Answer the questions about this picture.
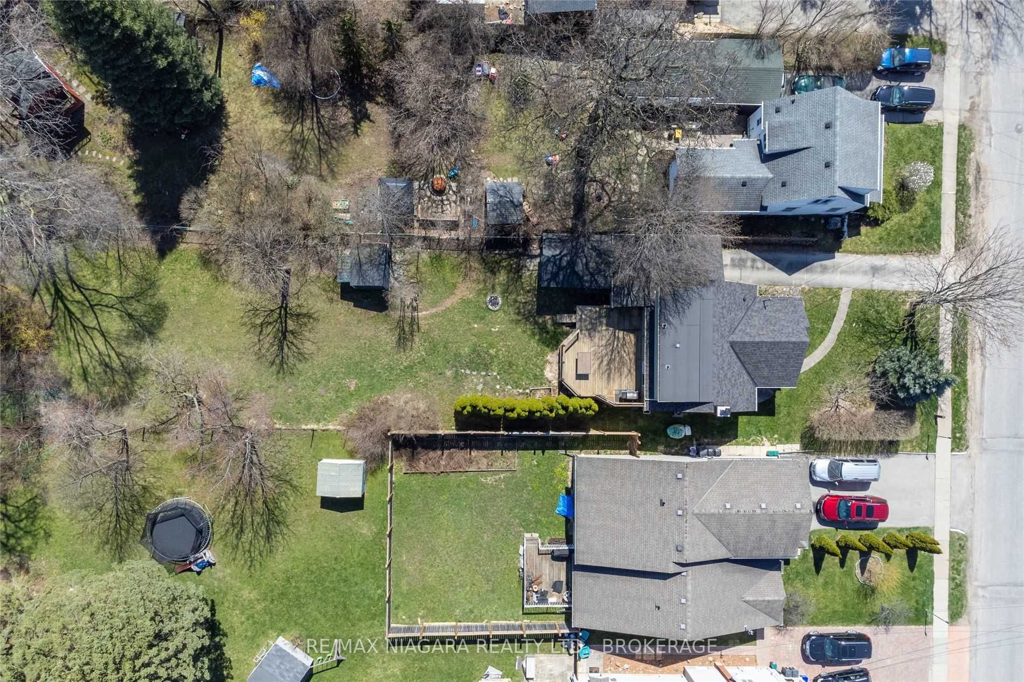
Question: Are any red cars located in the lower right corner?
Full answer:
Yes, in the lower right corner there is a red car.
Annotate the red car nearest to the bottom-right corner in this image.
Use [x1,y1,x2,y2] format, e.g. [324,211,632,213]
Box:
[814,493,887,526]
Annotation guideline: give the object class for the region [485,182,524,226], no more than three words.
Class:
shed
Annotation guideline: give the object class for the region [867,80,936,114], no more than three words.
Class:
car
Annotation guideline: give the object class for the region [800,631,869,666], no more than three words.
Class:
car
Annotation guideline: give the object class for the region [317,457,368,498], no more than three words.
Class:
shed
